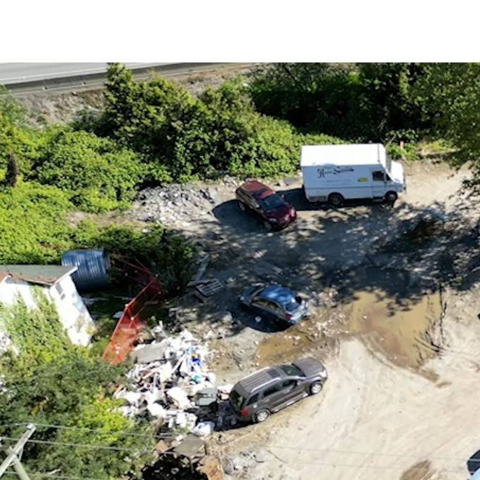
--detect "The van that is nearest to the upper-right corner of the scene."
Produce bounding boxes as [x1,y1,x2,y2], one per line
[292,141,405,206]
